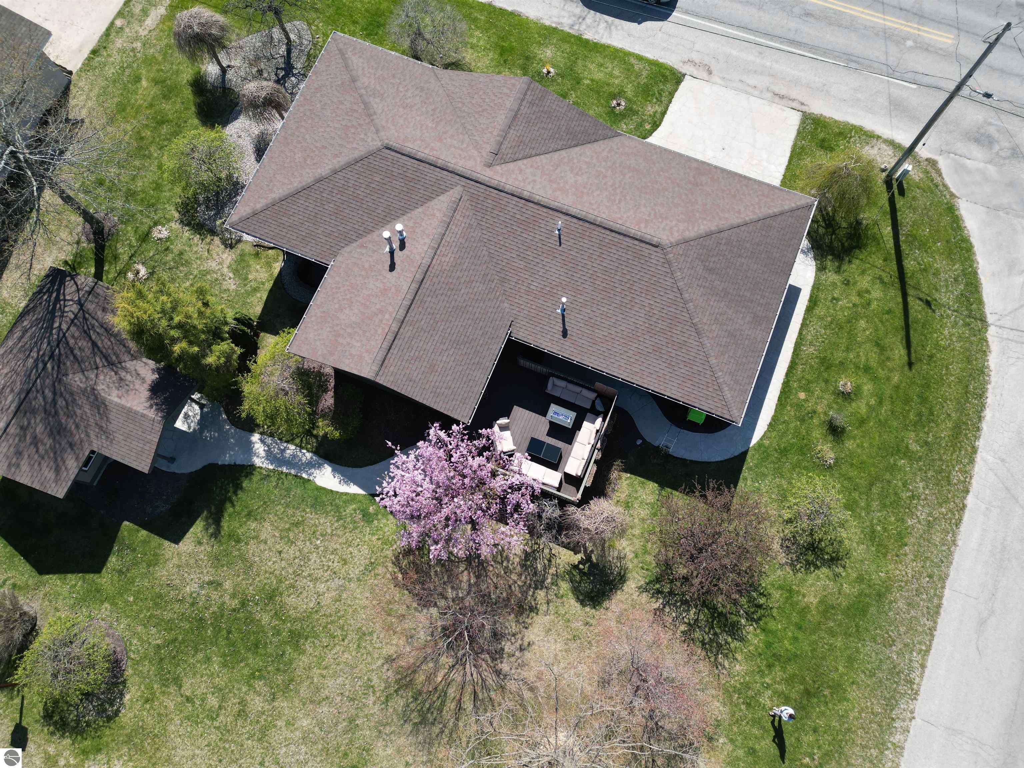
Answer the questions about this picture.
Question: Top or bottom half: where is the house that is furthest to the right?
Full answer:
The house that is furthest to the right sits in the top half of the picture.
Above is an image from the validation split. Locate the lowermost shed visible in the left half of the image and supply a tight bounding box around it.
[0,267,207,499]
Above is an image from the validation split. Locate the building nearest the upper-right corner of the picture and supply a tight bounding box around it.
[226,32,816,425]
